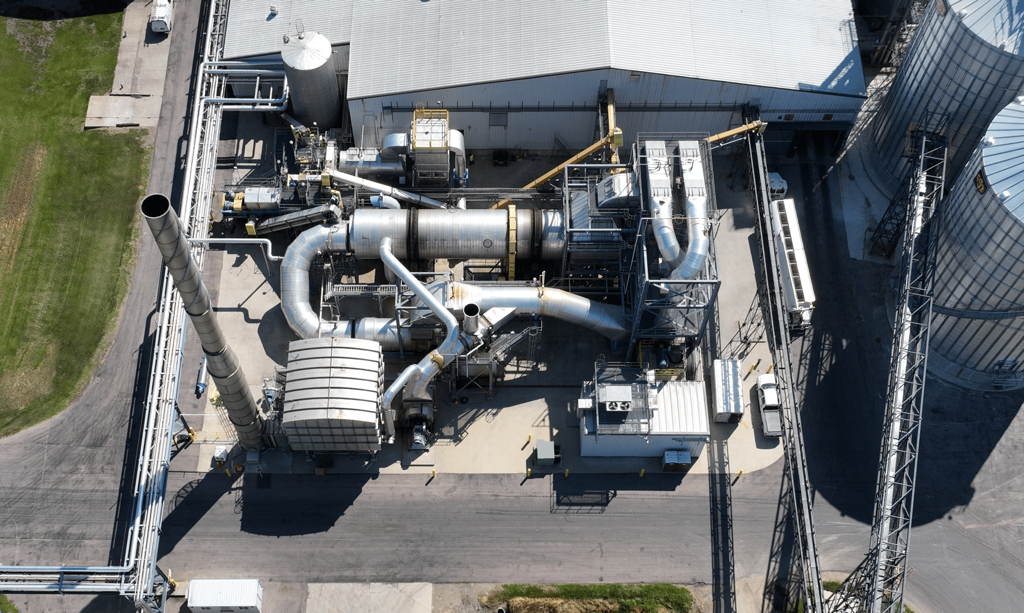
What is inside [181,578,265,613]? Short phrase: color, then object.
white shipping container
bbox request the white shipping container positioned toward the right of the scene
[712,360,745,425]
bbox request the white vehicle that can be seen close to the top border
[149,0,176,30]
